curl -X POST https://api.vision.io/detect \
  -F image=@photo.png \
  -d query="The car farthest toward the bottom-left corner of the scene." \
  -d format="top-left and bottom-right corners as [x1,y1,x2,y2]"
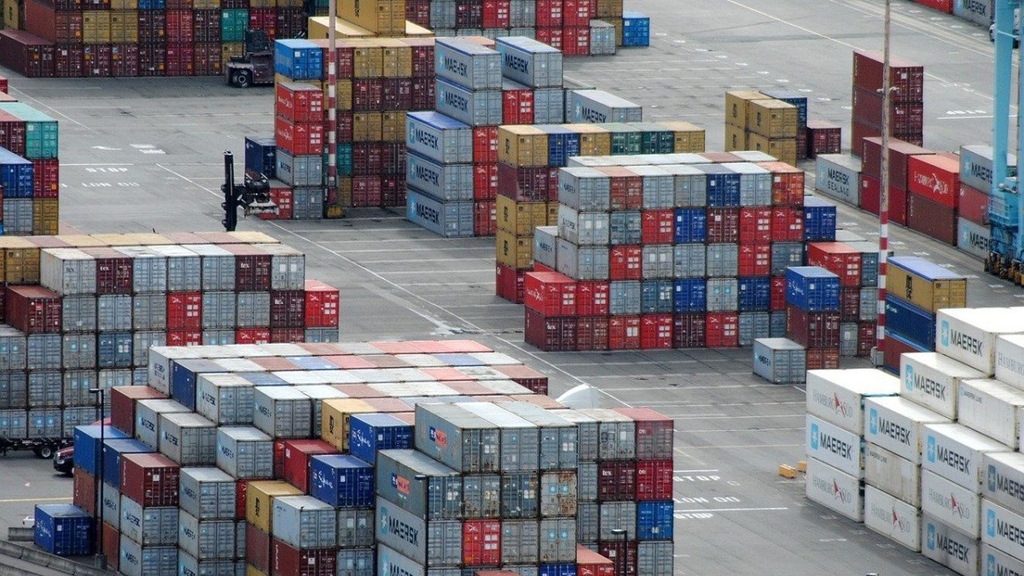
[16,504,35,527]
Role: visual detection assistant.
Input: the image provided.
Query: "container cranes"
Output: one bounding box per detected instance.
[984,0,1024,278]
